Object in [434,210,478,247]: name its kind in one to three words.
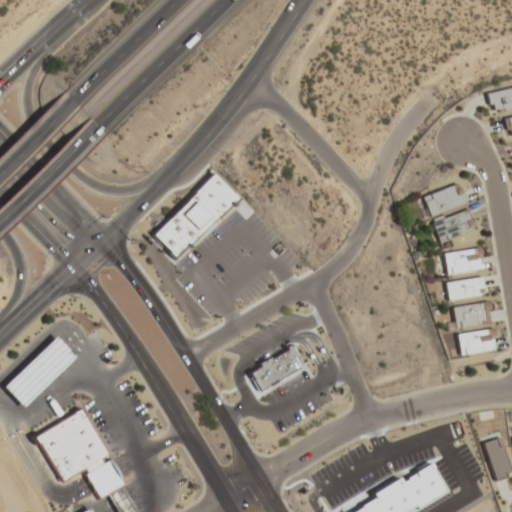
house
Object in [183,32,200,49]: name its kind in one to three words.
vehicle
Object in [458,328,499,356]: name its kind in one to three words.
house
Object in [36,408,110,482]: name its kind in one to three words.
building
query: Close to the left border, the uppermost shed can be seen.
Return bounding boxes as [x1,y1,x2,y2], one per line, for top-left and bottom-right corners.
[5,336,78,408]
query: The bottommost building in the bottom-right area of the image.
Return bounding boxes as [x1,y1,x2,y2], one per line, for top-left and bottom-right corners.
[352,463,454,512]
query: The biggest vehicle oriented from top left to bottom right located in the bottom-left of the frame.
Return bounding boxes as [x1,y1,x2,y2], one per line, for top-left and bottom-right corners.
[49,397,64,418]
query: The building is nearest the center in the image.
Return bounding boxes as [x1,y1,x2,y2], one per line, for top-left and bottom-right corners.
[154,174,240,261]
